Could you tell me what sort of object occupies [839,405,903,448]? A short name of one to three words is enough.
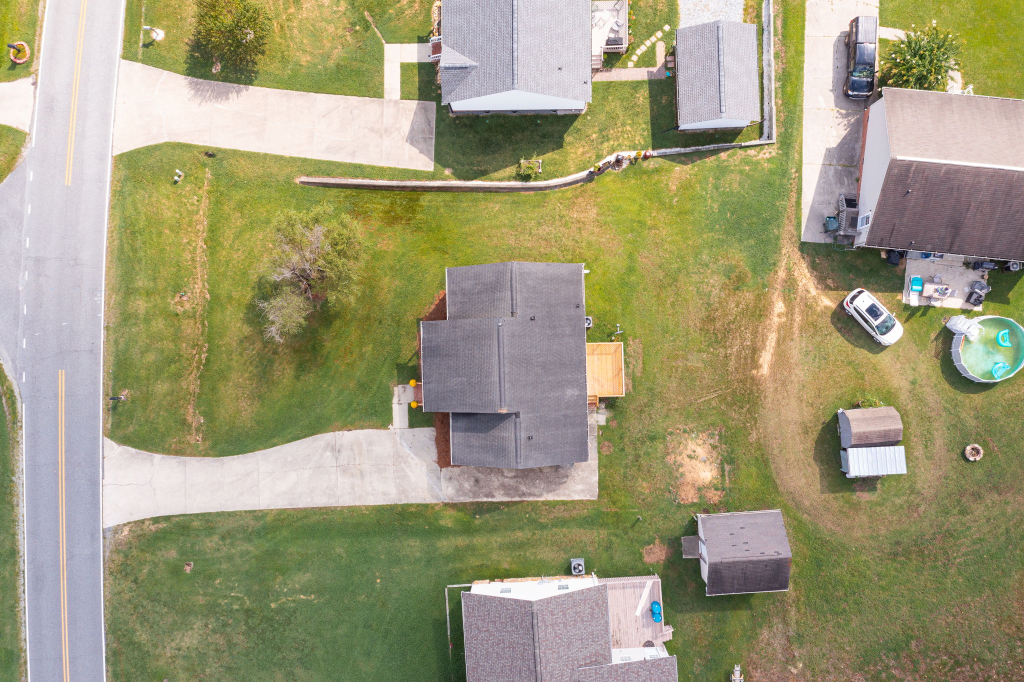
shed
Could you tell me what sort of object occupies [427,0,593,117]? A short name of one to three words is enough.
house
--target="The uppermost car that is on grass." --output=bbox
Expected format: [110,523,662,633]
[844,291,900,344]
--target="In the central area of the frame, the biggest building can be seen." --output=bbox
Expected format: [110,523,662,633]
[416,262,591,468]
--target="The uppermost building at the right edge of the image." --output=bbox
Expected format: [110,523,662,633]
[854,84,1024,263]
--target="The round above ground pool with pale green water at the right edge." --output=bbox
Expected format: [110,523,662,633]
[948,315,1024,382]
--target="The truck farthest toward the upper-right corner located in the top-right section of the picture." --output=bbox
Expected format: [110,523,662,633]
[841,17,878,101]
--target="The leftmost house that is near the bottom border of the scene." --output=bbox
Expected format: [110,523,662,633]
[460,576,678,682]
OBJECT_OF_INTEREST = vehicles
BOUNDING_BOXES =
[844,291,900,344]
[841,17,878,101]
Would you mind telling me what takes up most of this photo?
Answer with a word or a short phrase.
grass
